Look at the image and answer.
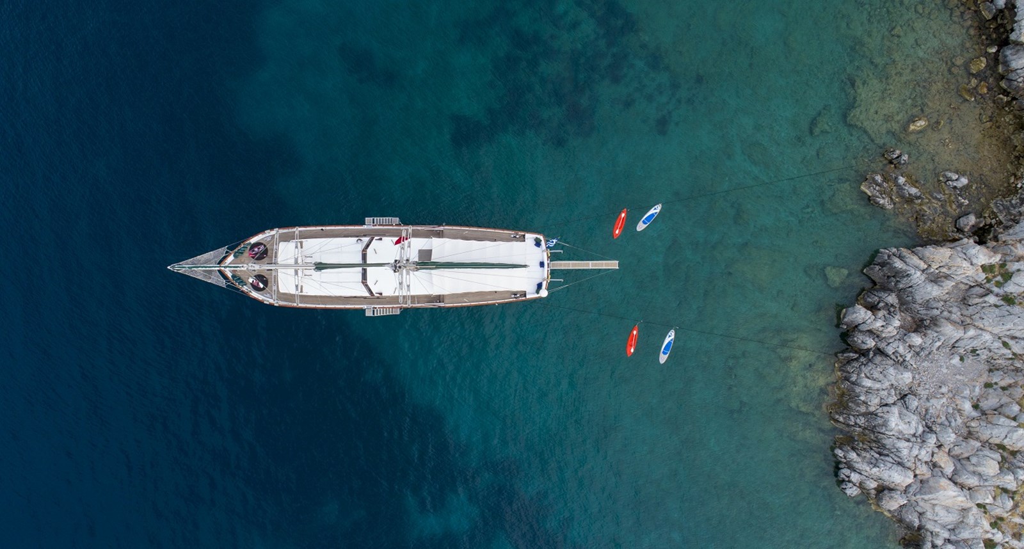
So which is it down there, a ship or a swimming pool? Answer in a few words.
ship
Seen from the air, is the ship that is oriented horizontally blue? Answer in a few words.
No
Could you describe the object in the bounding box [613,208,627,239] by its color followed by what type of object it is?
red boat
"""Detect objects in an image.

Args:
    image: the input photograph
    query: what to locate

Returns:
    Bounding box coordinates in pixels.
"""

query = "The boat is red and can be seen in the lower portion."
[627,325,639,357]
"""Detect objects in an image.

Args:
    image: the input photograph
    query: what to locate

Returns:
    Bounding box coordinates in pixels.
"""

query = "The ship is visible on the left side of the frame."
[169,217,619,316]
